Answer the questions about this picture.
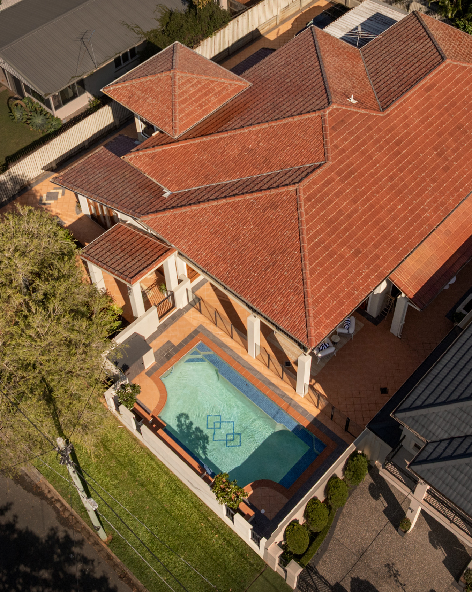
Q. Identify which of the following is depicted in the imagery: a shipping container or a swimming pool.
swimming pool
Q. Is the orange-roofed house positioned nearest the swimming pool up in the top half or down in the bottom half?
top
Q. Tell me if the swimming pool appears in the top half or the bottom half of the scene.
bottom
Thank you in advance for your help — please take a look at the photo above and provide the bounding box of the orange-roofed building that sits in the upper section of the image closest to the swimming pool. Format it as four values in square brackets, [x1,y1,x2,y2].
[48,9,472,398]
